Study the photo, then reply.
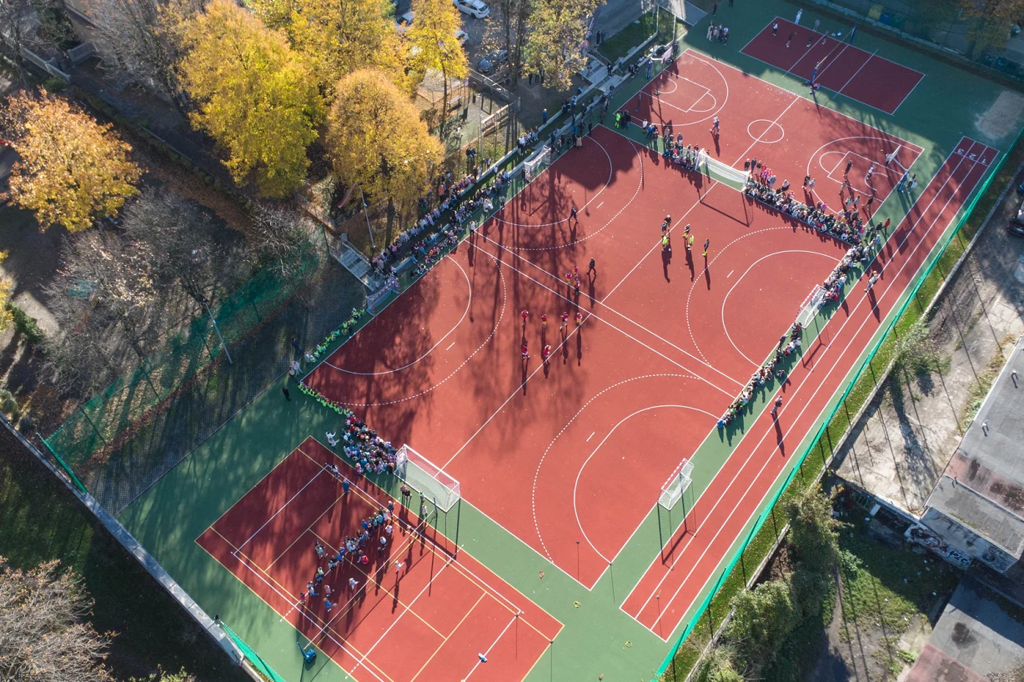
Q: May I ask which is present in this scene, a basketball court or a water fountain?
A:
basketball court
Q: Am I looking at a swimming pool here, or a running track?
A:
running track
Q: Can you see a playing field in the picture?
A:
Yes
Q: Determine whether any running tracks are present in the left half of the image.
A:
No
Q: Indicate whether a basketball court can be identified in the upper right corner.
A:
Yes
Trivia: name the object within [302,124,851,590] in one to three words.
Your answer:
sports field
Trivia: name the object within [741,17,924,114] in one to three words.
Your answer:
sports court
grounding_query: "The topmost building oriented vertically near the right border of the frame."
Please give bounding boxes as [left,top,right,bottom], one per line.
[922,323,1024,563]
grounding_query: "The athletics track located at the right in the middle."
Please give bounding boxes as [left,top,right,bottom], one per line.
[621,137,999,640]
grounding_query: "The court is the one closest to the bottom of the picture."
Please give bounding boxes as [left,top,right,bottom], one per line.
[196,437,563,682]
